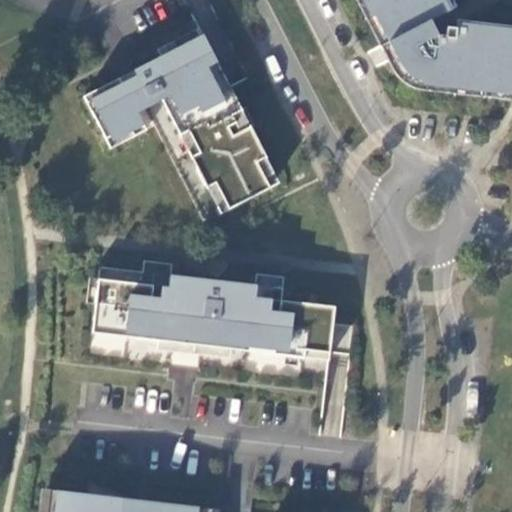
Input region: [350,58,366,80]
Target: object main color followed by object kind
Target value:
white car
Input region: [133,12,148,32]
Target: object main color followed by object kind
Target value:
white car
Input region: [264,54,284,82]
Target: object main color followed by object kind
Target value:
white vehicle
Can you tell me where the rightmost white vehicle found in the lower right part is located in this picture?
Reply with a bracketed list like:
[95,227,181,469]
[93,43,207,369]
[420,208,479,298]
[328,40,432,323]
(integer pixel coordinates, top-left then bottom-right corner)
[467,381,479,416]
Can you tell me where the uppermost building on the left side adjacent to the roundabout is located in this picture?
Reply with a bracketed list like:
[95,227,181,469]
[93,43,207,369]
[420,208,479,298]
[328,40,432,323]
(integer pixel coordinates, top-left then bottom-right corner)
[84,32,280,216]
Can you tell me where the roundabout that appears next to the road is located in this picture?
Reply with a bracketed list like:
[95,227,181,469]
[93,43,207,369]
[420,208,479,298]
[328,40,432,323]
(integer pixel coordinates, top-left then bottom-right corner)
[347,140,482,292]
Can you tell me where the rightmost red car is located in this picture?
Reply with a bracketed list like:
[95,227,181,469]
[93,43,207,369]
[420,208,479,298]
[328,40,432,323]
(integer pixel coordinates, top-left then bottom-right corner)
[295,108,311,128]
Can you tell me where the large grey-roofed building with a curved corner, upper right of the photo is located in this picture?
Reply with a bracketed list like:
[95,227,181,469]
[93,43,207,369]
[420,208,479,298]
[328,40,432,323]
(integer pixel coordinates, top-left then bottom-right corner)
[361,0,512,102]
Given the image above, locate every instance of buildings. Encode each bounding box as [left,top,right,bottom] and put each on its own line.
[86,260,336,373]
[39,488,216,512]
[84,32,280,216]
[361,0,512,102]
